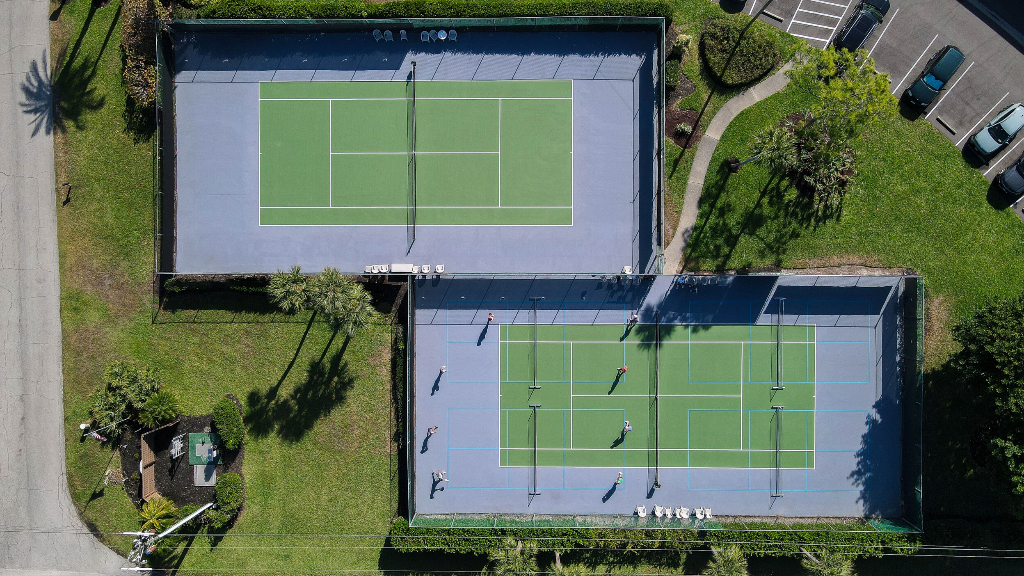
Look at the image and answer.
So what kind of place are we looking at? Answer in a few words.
sports ground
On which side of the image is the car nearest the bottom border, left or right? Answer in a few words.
right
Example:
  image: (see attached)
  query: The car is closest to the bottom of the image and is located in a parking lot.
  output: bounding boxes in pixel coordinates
[992,143,1024,193]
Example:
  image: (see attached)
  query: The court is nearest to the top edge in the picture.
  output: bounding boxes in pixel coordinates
[175,30,658,274]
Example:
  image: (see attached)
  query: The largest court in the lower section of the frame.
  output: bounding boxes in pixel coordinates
[416,275,902,518]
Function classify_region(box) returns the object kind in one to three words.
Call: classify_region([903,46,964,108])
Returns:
car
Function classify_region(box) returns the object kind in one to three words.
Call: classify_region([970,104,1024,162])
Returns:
car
